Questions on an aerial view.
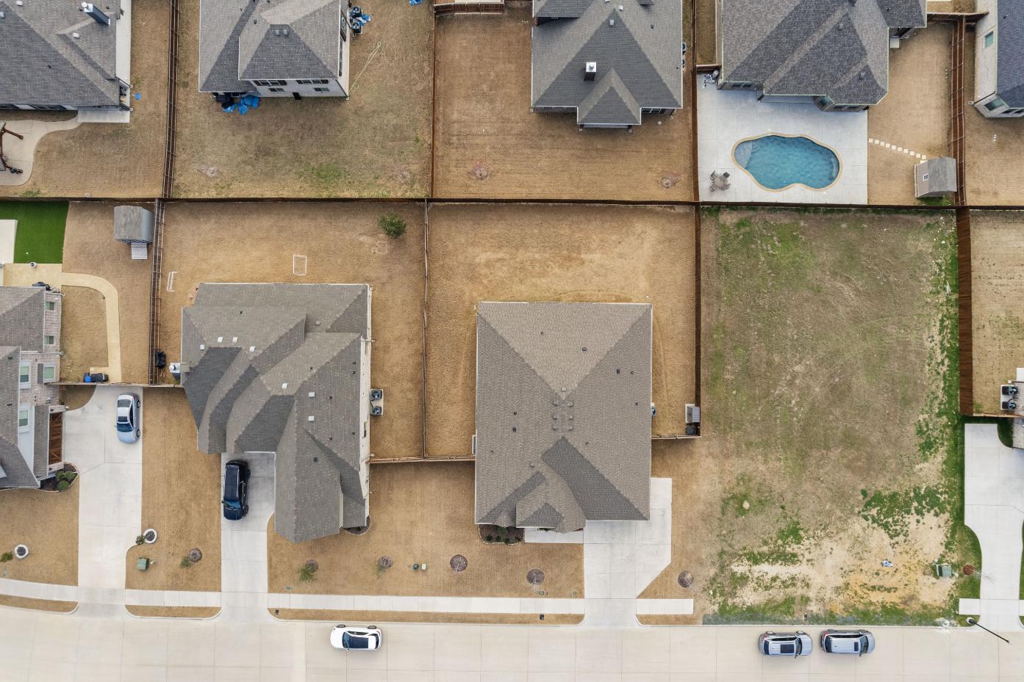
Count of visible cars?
five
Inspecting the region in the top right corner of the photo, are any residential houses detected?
Yes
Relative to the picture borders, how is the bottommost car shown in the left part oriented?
from left to right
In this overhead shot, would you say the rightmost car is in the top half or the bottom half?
bottom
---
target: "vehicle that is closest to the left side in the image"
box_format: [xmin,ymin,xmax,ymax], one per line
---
[113,394,140,445]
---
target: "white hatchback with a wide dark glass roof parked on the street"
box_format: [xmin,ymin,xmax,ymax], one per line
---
[332,625,383,650]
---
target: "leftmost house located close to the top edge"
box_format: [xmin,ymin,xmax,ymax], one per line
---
[0,0,132,111]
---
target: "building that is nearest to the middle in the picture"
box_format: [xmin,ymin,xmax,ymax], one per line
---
[475,301,653,533]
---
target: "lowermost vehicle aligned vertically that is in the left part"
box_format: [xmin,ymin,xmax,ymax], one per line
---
[222,460,250,519]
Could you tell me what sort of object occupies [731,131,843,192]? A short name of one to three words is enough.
swimming pool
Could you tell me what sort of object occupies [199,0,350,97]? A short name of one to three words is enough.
house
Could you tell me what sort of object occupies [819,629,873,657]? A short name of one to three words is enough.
car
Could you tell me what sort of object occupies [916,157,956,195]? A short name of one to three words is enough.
shed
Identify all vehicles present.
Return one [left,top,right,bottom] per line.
[222,460,250,519]
[819,629,873,657]
[113,394,140,445]
[759,631,811,658]
[332,625,383,650]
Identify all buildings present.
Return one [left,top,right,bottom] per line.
[0,286,67,488]
[199,0,350,97]
[974,0,1024,117]
[717,0,927,111]
[114,205,151,259]
[475,301,653,533]
[916,157,956,195]
[530,0,683,132]
[0,0,132,111]
[168,282,374,543]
